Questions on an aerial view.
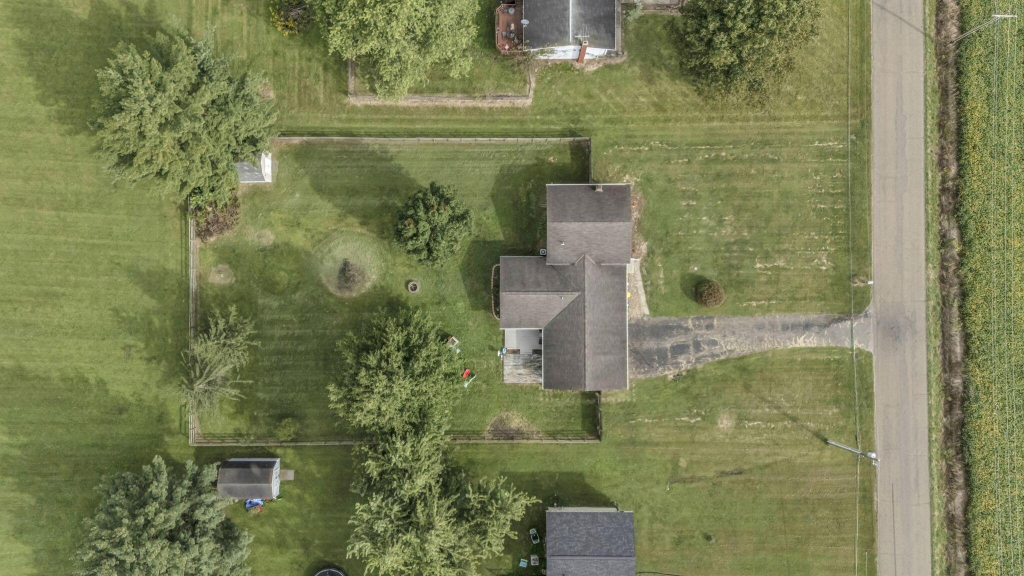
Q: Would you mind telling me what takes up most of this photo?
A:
grass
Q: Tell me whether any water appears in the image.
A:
No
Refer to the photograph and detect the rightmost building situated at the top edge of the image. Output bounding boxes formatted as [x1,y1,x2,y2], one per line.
[523,0,616,64]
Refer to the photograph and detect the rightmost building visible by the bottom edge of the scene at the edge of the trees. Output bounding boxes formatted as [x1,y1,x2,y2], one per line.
[546,503,636,576]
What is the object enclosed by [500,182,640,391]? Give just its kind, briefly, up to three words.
house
